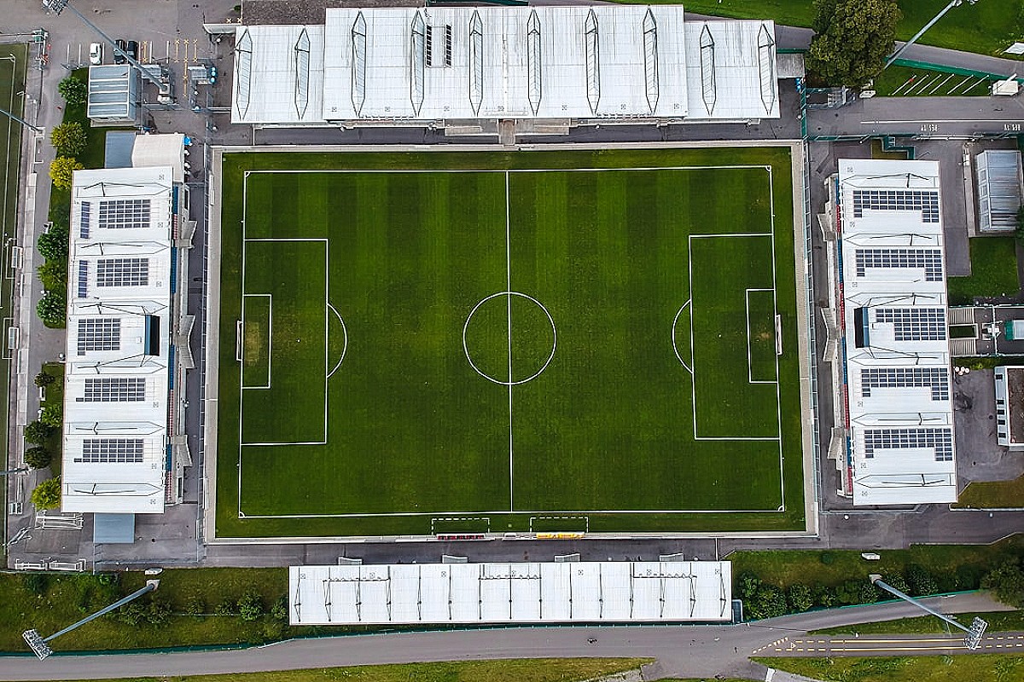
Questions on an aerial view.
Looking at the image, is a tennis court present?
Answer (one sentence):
No, there isn't any tennis court down there.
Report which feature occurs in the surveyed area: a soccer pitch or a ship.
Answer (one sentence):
This aerial view contains a soccer pitch.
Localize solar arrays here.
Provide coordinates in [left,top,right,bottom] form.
[98,199,148,226]
[75,378,143,401]
[865,429,950,461]
[876,308,944,340]
[73,438,141,462]
[76,318,119,355]
[861,367,946,399]
[79,201,88,236]
[77,260,86,296]
[96,258,146,285]
[856,248,940,280]
[853,189,937,220]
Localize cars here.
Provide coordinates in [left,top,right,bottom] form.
[127,41,139,65]
[89,42,103,63]
[113,41,126,64]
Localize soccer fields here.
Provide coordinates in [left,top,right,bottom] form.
[205,141,816,540]
[0,42,28,570]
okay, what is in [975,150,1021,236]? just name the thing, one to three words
building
